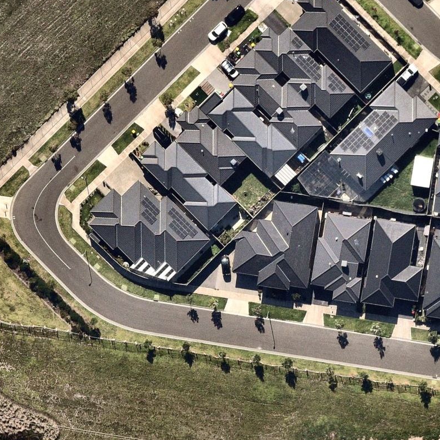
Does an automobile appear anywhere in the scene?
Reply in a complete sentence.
Yes, you can see an automobile in this photo.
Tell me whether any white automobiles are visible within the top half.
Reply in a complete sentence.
Yes, within the top half there is a white automobile.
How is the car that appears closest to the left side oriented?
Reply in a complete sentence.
In this picture, the car that appears closest to the left side is oriented at an angle.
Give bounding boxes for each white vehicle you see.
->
[219,57,239,79]
[208,23,228,43]
[395,65,419,87]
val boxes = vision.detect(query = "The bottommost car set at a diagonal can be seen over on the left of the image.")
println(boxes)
[153,125,172,148]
